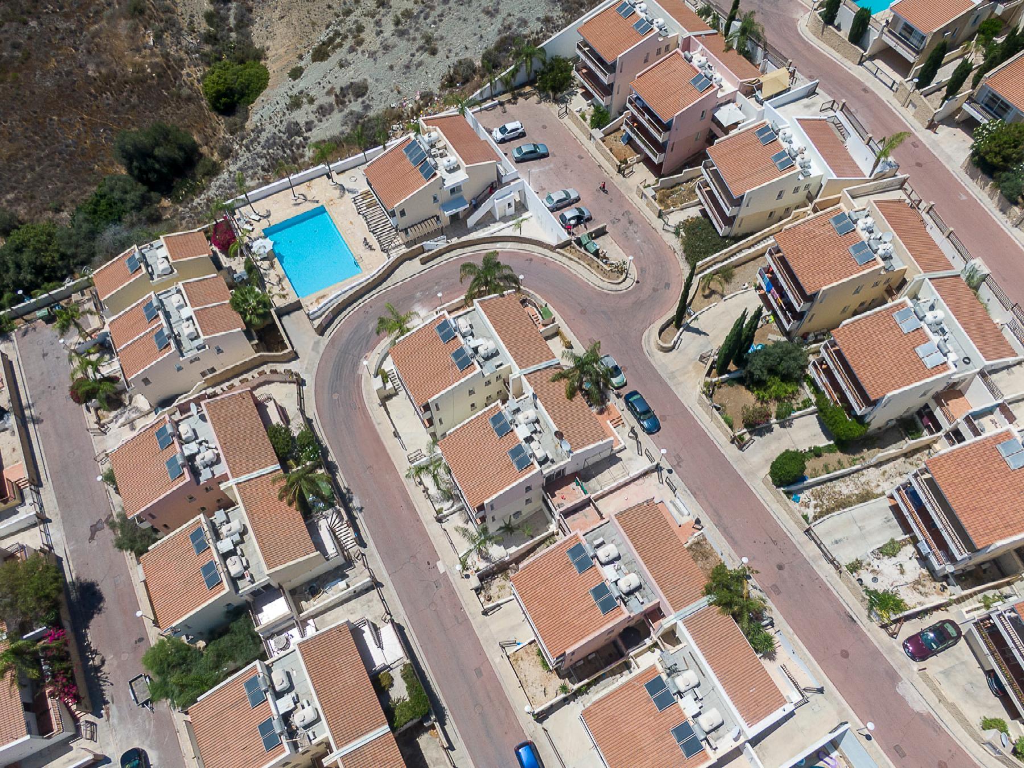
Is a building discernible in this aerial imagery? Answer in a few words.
Yes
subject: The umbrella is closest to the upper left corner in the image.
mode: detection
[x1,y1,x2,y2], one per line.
[243,231,269,257]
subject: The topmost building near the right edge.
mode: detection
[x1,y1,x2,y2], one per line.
[875,0,1019,78]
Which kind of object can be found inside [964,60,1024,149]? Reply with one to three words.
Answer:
house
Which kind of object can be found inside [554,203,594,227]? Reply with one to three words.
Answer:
car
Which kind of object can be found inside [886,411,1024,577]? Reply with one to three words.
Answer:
house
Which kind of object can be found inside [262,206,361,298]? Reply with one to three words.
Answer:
swimming pool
